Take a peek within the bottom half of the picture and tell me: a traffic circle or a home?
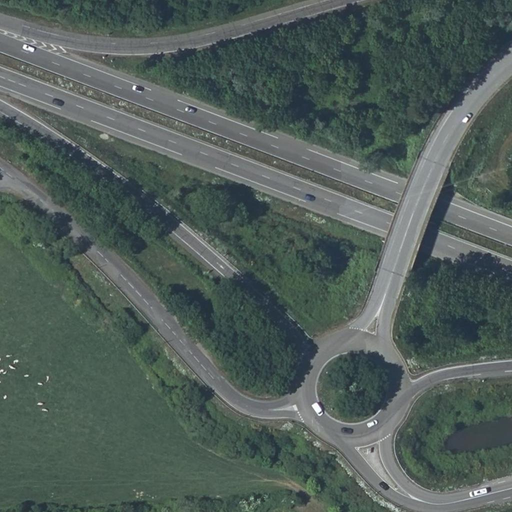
traffic circle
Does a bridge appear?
Yes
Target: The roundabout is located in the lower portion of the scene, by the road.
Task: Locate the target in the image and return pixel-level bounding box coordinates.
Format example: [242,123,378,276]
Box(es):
[297,314,413,464]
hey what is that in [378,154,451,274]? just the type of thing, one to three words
bridge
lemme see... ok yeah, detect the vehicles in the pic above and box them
[132,85,144,92]
[23,45,35,52]
[313,402,324,415]
[184,106,196,114]
[366,420,378,428]
[342,428,354,434]
[304,194,316,201]
[52,98,64,106]
[471,488,489,497]
[379,482,390,491]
